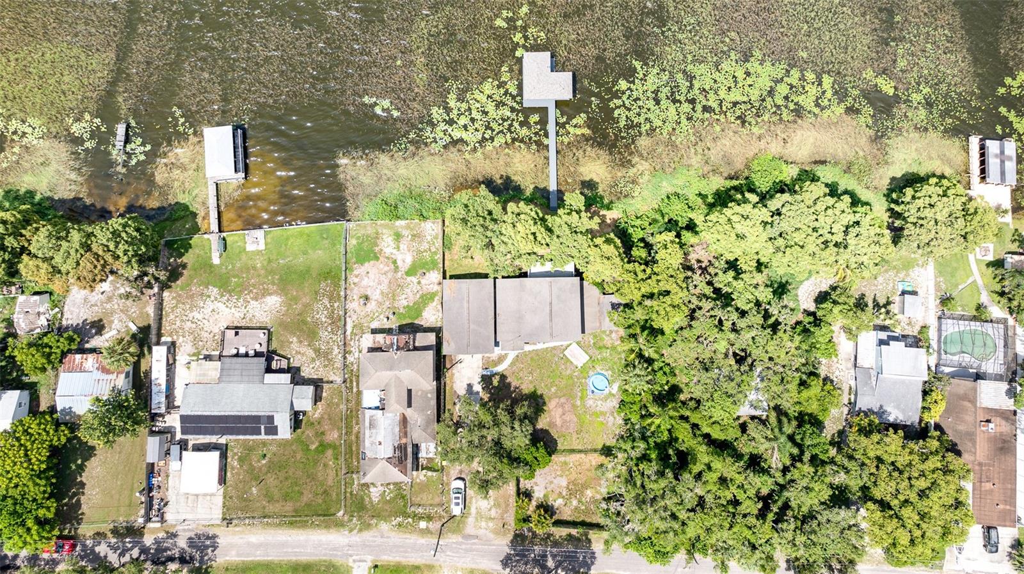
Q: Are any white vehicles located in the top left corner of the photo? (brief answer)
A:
No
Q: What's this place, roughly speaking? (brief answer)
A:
residential area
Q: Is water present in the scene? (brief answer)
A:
Yes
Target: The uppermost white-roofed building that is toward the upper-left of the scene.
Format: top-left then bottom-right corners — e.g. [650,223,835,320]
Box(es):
[204,125,252,182]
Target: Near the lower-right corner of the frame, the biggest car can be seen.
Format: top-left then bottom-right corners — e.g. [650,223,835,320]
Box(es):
[979,524,1002,554]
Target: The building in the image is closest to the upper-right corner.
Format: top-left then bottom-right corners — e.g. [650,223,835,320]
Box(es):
[962,135,1016,189]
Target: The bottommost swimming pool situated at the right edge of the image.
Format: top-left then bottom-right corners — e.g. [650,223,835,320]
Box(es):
[939,327,996,362]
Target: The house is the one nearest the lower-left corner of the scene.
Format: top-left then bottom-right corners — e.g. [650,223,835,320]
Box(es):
[0,387,39,432]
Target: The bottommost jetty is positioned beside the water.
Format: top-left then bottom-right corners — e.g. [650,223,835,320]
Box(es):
[207,182,223,231]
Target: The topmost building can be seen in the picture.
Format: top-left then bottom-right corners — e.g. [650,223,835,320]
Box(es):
[523,45,573,107]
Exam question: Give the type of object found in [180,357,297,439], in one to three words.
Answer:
house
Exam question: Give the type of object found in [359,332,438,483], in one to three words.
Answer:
house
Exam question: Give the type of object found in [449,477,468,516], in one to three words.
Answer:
car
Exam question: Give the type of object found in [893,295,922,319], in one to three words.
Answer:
shed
